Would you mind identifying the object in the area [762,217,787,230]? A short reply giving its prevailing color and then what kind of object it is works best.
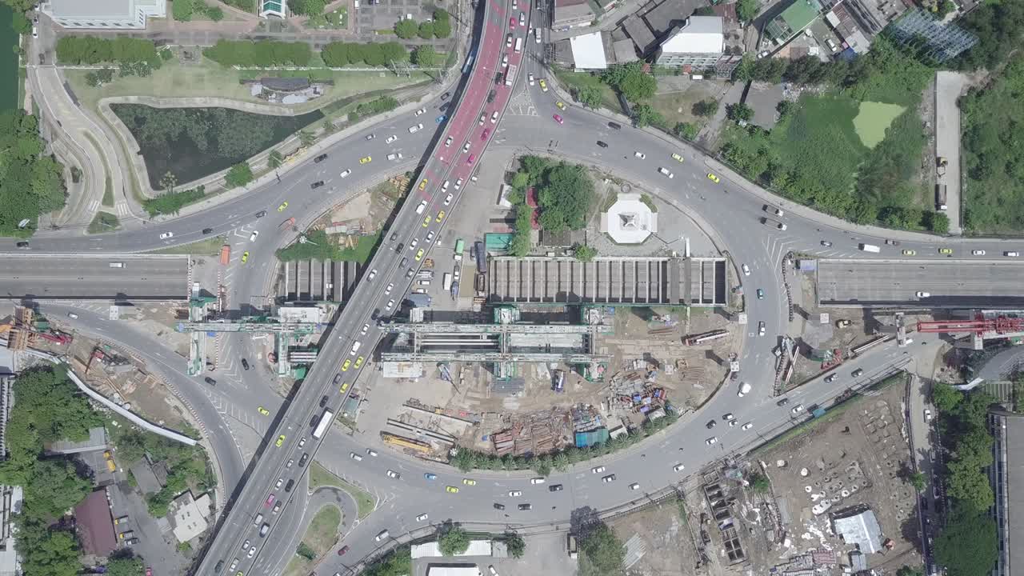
gray vehicle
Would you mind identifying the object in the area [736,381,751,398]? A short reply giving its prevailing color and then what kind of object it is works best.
white vehicle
